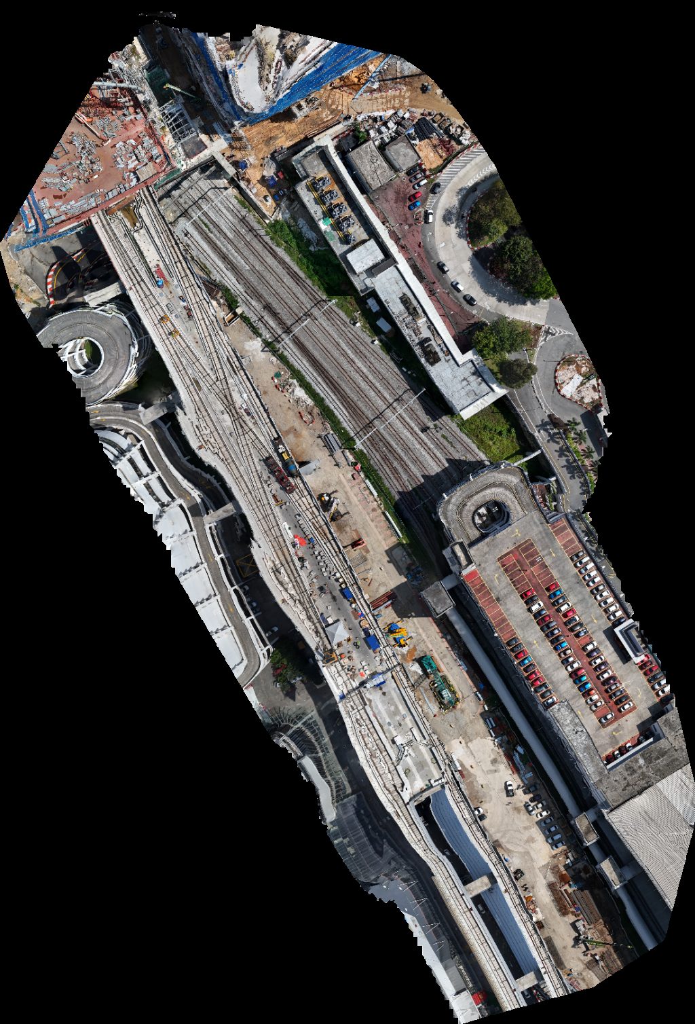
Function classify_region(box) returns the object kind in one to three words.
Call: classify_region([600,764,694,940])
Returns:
building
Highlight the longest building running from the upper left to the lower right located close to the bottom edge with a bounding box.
[370,866,481,1023]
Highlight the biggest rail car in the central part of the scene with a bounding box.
[274,447,297,478]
